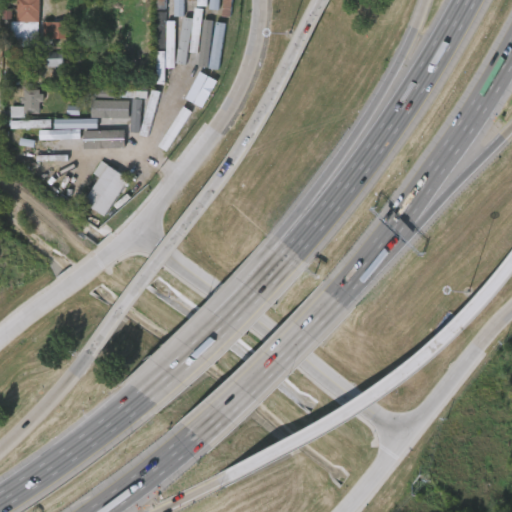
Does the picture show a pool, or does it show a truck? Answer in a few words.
truck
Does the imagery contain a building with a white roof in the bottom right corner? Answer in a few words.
No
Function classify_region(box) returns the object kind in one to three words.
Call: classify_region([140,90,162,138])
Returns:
house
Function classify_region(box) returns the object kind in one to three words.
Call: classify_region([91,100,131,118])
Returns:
house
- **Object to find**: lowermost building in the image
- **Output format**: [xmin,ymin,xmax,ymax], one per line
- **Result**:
[90,172,120,216]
